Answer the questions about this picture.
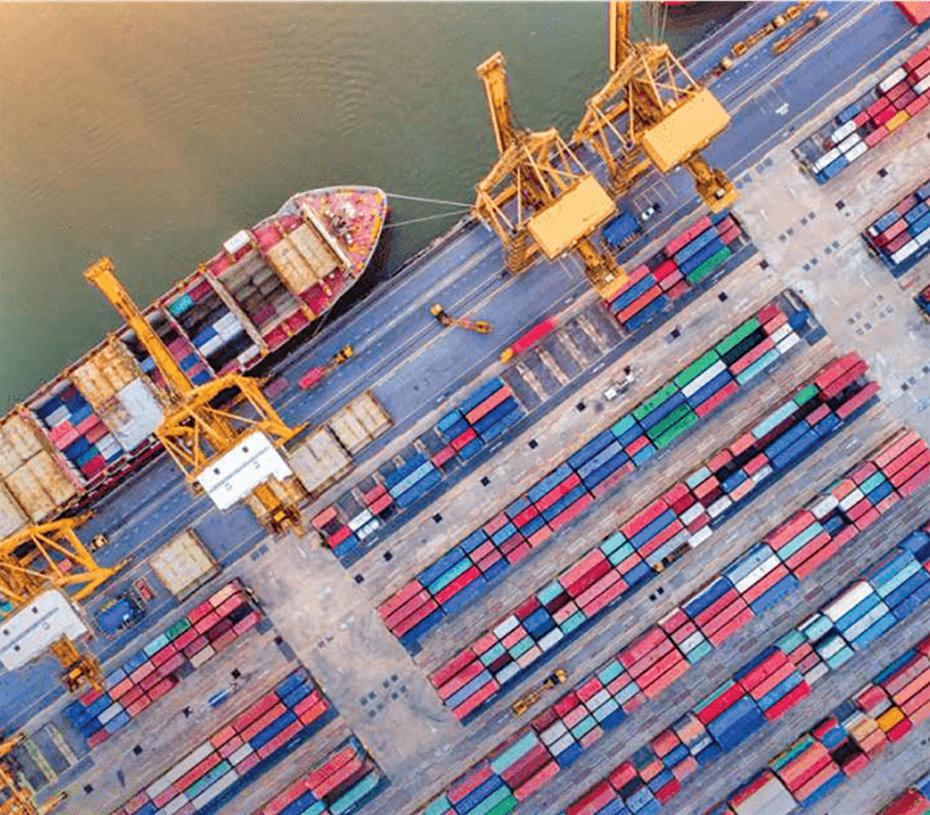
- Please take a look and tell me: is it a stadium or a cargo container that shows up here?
cargo container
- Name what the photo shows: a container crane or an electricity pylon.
container crane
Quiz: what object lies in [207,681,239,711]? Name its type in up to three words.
truck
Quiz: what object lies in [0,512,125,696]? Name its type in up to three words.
container crane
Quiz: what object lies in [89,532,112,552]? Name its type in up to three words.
vehicle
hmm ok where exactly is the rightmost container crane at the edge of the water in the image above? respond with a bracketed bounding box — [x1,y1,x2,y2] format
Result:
[569,0,744,215]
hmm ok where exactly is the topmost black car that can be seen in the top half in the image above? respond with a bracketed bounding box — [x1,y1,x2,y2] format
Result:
[651,197,667,212]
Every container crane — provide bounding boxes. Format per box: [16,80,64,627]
[569,0,744,215]
[0,734,62,815]
[81,259,308,543]
[465,38,635,300]
[0,512,125,696]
